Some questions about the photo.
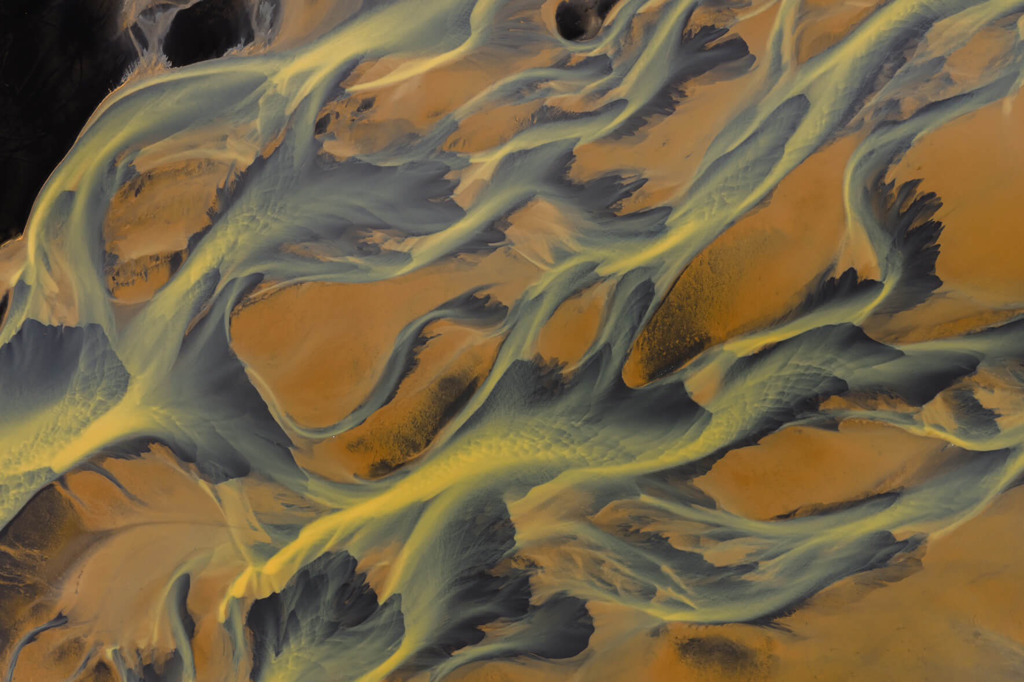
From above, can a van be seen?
No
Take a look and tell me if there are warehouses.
No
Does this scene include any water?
Yes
